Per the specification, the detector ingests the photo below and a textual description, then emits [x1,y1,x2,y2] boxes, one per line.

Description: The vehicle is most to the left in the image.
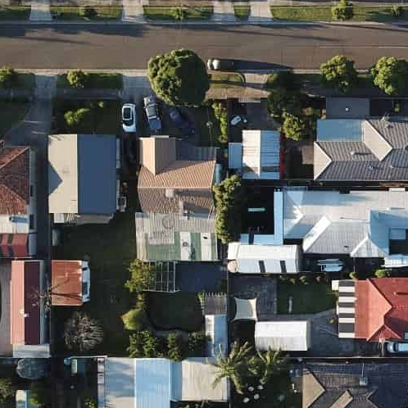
[120,100,139,134]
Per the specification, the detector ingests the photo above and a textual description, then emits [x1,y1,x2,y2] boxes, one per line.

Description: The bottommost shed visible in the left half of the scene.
[17,388,44,408]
